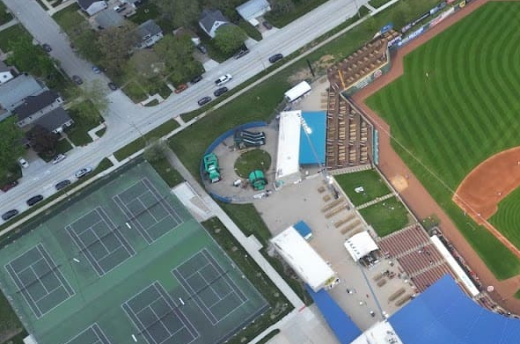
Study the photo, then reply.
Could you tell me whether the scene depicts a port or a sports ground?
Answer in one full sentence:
It's a sports ground.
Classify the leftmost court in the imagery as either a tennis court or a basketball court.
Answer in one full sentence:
In the photo, the leftmost court shows up as a tennis court.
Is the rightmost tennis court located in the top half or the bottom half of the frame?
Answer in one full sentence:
The rightmost tennis court is in the bottom half of the image.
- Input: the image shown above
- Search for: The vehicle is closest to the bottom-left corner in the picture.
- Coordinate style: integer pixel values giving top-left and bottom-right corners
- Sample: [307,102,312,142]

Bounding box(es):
[1,208,19,220]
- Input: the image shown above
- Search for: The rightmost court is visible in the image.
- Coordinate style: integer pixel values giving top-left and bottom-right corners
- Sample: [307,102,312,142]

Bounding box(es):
[172,248,247,324]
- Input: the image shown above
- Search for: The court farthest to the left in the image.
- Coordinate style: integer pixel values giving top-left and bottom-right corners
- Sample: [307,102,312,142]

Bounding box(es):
[3,243,76,319]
